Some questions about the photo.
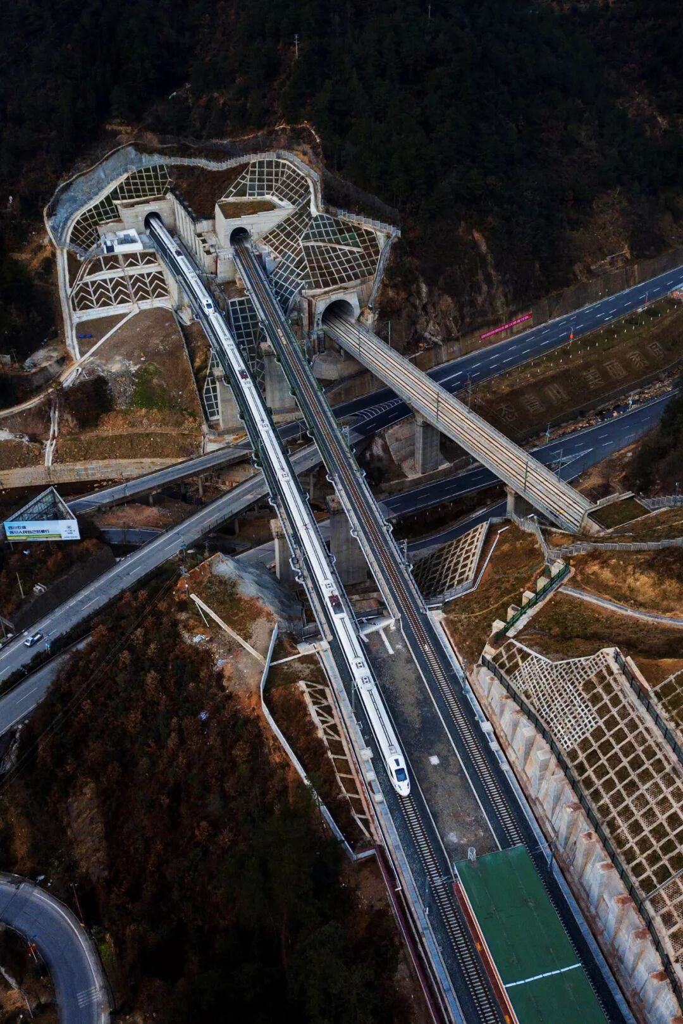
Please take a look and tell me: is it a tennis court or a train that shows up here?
train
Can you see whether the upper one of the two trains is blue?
No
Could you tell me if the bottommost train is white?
Yes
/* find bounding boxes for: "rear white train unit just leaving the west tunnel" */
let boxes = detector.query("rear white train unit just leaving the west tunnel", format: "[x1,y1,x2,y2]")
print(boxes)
[152,219,213,313]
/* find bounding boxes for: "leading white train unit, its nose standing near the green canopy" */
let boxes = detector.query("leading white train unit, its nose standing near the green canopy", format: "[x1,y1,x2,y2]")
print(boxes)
[207,309,405,789]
